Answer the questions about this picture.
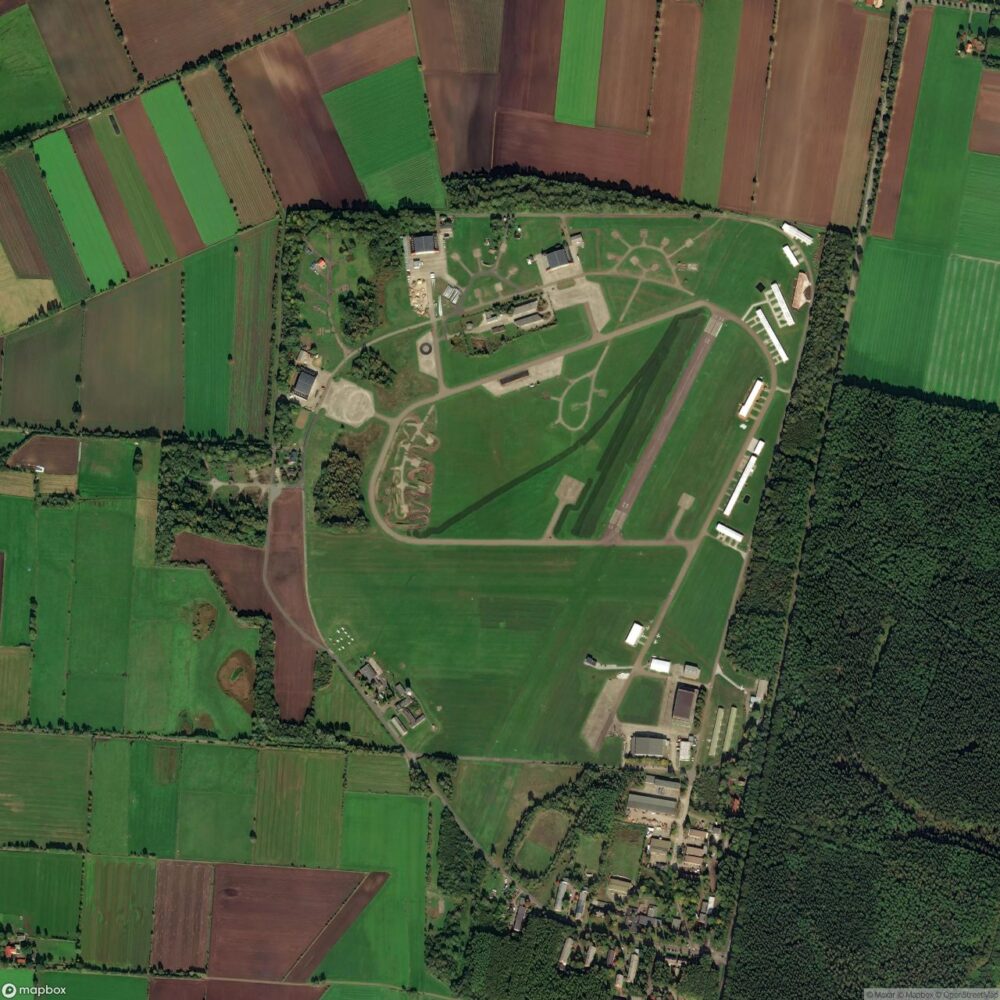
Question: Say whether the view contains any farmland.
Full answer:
Yes, there is farmland in the image.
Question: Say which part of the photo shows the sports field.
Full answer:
The sports field appears toward the bottom of the photo.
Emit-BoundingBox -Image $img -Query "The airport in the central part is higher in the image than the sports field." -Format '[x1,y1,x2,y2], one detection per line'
[276,212,822,775]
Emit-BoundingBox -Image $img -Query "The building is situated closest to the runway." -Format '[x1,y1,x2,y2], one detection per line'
[757,310,788,361]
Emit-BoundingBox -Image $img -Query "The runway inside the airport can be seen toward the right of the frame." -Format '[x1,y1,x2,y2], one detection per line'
[602,307,728,548]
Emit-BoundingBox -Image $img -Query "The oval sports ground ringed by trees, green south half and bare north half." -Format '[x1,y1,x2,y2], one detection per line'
[515,809,566,874]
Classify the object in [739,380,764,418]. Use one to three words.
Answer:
hangar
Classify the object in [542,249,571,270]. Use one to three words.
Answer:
hangar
